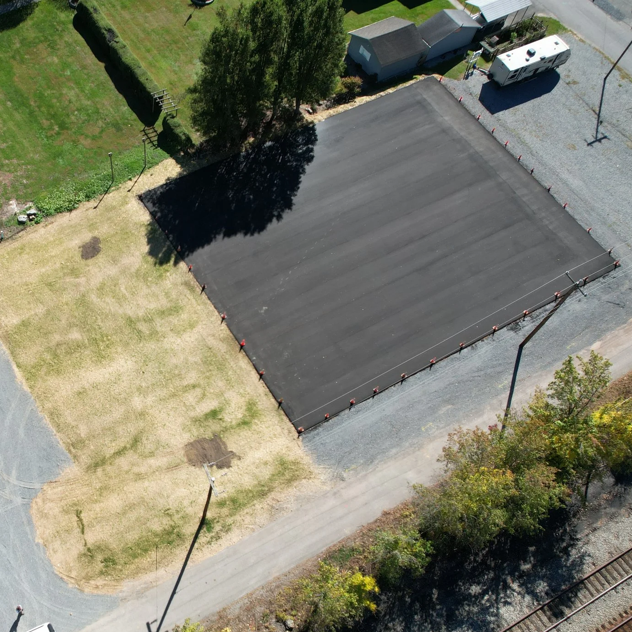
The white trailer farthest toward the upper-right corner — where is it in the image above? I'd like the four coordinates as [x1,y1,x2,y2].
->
[482,36,568,89]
